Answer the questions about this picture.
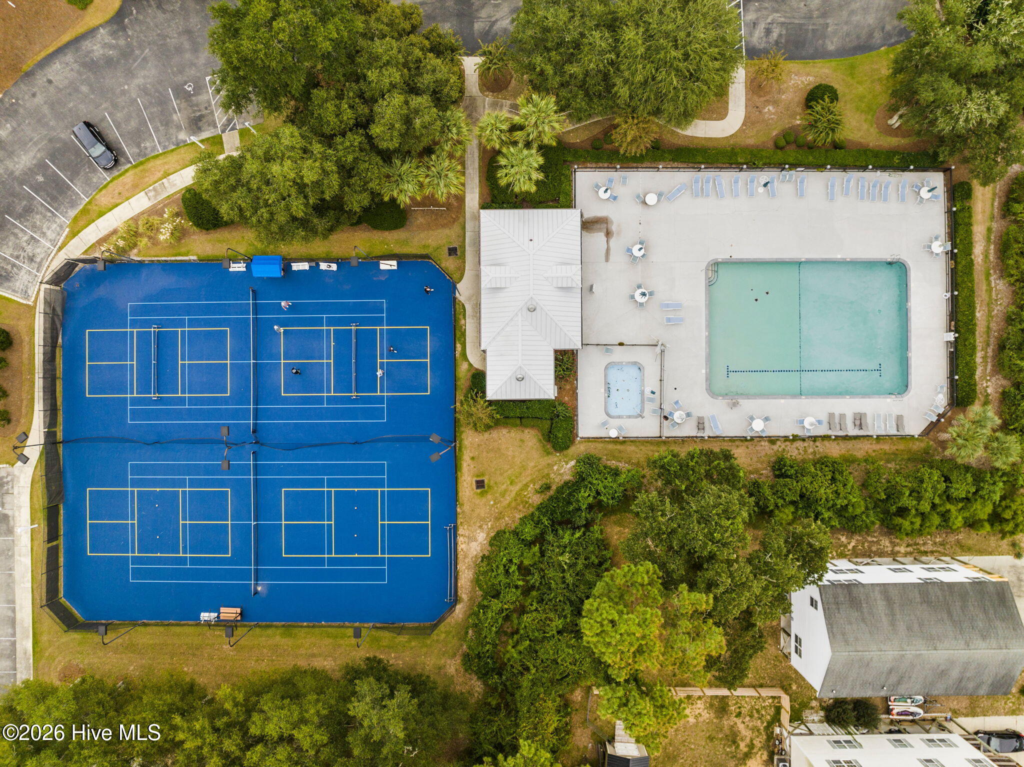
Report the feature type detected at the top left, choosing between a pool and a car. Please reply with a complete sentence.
The one visible at the top left is a car.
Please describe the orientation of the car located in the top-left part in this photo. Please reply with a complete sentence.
I'd say the car located in the top-left part is aligned diagonally in the picture.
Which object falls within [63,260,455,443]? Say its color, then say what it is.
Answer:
blue tennis court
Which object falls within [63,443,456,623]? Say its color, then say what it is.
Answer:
blue tennis court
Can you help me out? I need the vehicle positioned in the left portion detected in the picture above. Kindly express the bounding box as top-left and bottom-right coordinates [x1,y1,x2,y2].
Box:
[70,116,118,173]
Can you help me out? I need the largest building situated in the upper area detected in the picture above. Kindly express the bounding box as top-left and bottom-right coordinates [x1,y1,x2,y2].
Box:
[479,208,583,400]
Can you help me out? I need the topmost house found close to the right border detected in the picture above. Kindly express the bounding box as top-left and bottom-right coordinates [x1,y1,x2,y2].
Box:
[780,556,1024,697]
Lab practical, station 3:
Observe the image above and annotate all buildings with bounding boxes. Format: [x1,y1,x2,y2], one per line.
[606,741,649,767]
[780,719,1015,767]
[479,208,583,400]
[780,556,1024,697]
